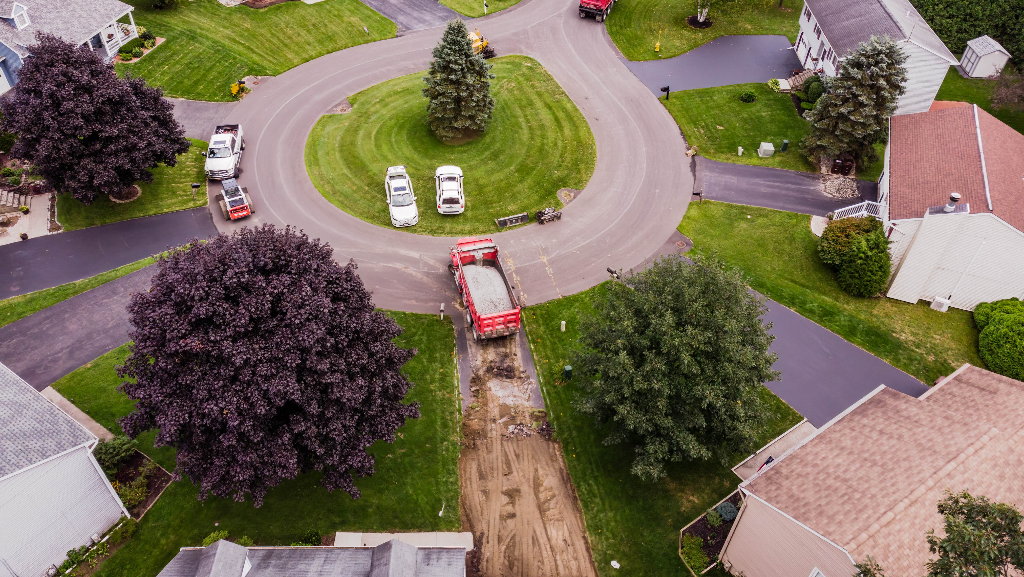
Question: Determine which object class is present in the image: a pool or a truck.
truck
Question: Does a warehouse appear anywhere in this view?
No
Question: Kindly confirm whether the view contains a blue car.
No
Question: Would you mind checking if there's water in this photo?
No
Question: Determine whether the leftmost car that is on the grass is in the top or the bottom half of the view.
top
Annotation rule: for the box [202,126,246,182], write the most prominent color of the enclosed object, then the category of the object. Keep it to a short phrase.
white truck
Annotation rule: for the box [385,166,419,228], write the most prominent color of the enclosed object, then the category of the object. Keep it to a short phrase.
white car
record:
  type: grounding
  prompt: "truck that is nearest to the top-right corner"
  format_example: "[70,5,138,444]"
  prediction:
[579,0,619,26]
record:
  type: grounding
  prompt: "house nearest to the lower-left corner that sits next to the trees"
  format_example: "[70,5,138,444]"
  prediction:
[0,358,127,577]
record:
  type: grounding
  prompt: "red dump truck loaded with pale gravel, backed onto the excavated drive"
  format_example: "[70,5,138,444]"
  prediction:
[448,230,524,352]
